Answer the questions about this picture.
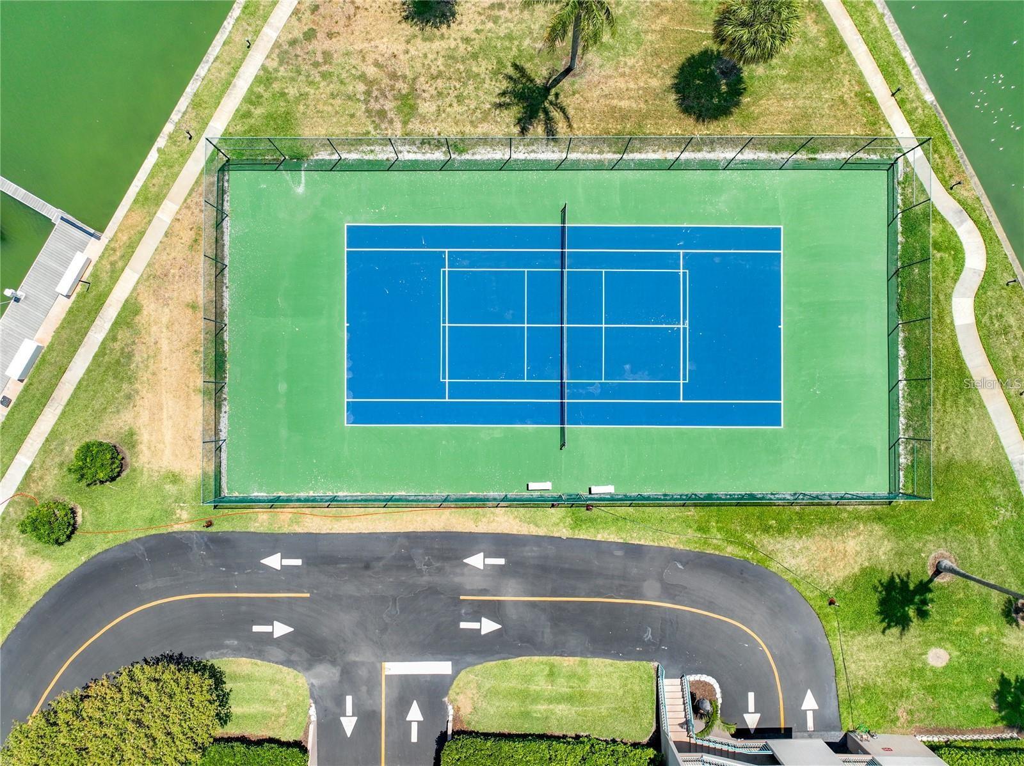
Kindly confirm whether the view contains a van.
No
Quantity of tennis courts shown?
1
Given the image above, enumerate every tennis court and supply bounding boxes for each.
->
[226,157,899,494]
